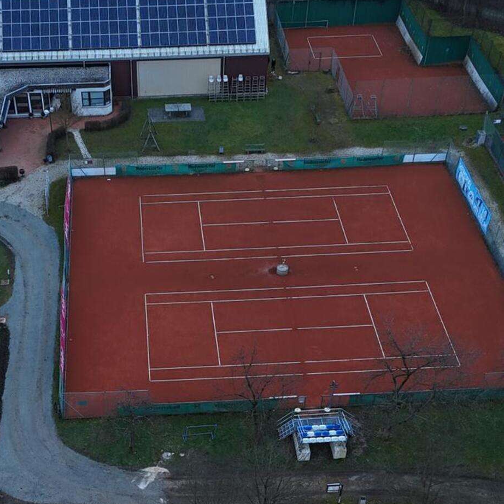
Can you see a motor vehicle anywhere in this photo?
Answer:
No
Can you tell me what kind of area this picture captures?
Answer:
sports ground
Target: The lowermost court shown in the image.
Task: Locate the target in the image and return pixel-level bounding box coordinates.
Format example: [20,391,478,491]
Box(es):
[65,262,504,419]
